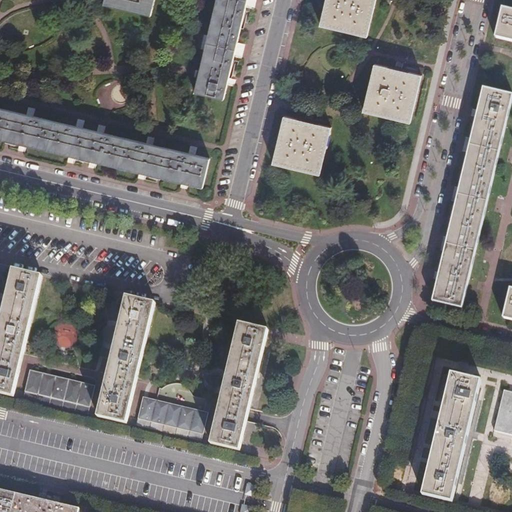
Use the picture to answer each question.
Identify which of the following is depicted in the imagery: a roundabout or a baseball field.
roundabout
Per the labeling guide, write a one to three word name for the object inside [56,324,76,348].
building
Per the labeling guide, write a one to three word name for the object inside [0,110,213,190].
building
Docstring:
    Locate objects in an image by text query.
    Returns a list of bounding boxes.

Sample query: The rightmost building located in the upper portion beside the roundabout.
[432,86,512,308]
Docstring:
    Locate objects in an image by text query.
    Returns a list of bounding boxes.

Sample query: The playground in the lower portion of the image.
[158,384,200,406]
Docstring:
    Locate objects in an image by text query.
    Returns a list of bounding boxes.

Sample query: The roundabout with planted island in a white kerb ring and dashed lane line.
[298,230,412,345]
